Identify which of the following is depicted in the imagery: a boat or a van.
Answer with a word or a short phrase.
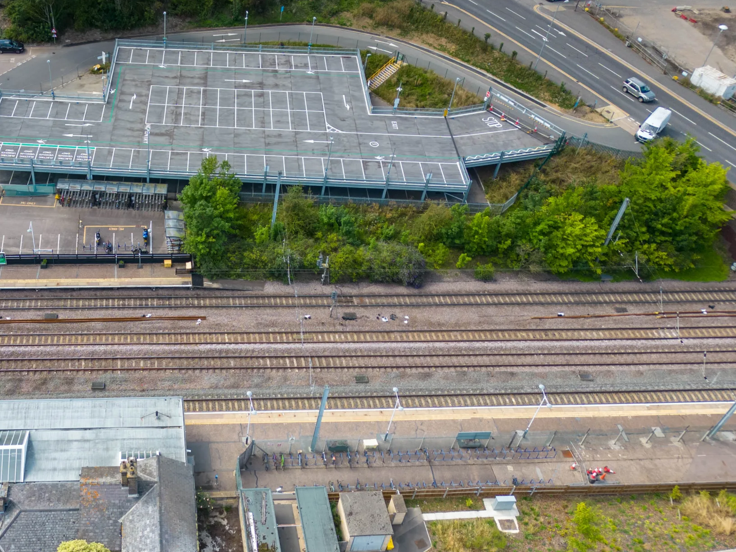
van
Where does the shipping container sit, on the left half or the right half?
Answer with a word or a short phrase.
right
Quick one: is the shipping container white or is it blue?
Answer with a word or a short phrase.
white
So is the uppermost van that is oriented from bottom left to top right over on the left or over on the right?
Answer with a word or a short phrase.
right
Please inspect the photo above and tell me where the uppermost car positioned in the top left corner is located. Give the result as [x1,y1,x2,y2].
[0,38,25,53]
